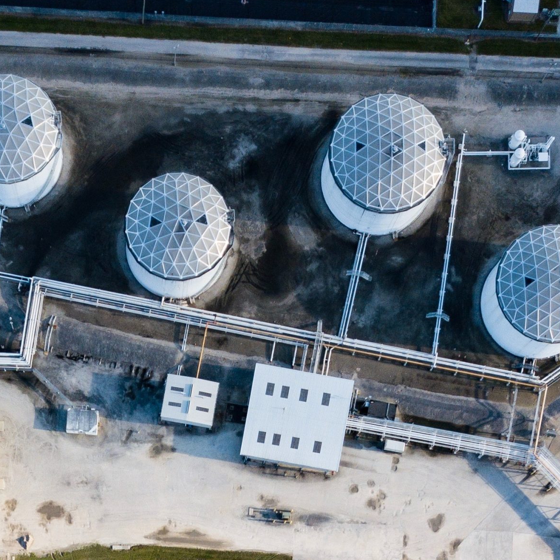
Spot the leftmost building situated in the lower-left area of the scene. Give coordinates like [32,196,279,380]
[67,404,101,438]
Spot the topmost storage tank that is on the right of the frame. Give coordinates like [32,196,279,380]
[320,93,459,235]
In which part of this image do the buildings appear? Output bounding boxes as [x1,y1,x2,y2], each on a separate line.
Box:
[67,404,101,438]
[505,0,537,25]
[160,374,220,431]
[239,363,353,480]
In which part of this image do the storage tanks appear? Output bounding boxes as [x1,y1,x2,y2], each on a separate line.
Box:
[479,226,560,358]
[320,93,459,235]
[0,73,70,208]
[125,173,244,299]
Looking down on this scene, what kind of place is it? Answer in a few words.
industrial area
